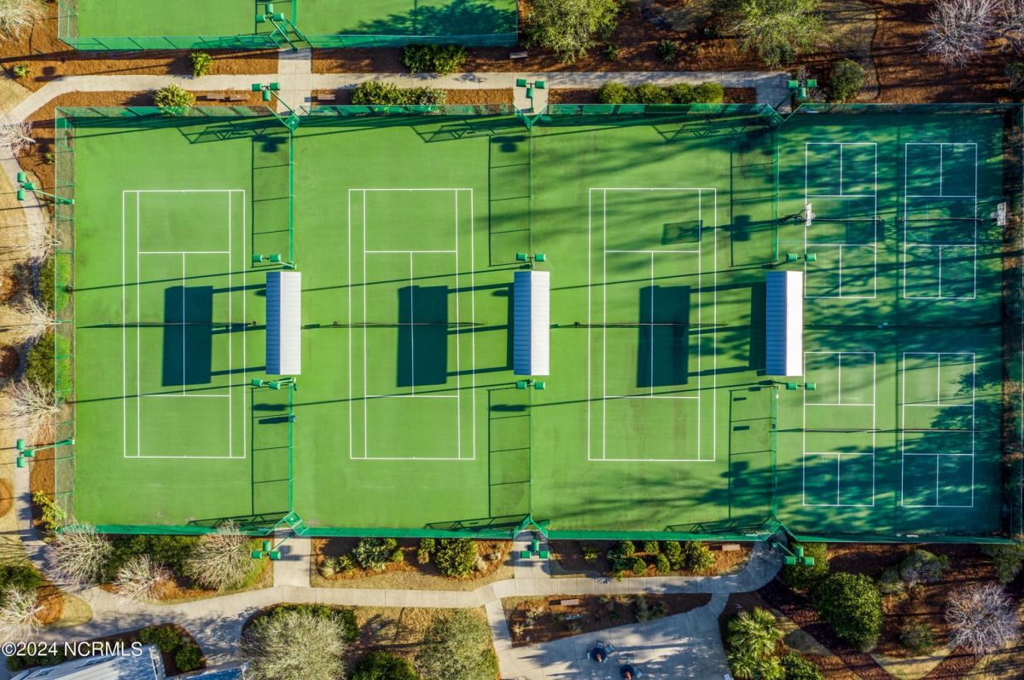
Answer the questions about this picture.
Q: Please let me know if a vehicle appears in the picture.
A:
No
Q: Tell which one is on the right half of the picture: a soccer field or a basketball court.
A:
basketball court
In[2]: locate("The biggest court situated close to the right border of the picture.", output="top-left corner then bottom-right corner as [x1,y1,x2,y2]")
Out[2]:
[773,110,1005,538]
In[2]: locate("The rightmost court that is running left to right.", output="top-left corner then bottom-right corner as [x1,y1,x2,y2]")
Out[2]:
[295,0,518,49]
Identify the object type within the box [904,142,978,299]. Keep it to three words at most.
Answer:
sports court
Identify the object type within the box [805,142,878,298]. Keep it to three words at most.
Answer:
sports court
